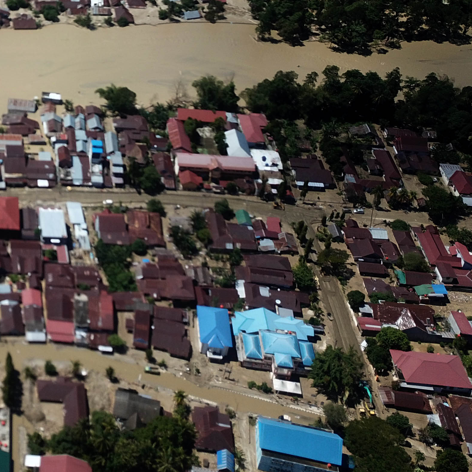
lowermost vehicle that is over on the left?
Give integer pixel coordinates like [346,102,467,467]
[143,362,163,375]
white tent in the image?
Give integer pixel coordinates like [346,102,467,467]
[270,380,303,399]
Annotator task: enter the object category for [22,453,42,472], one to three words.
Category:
building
